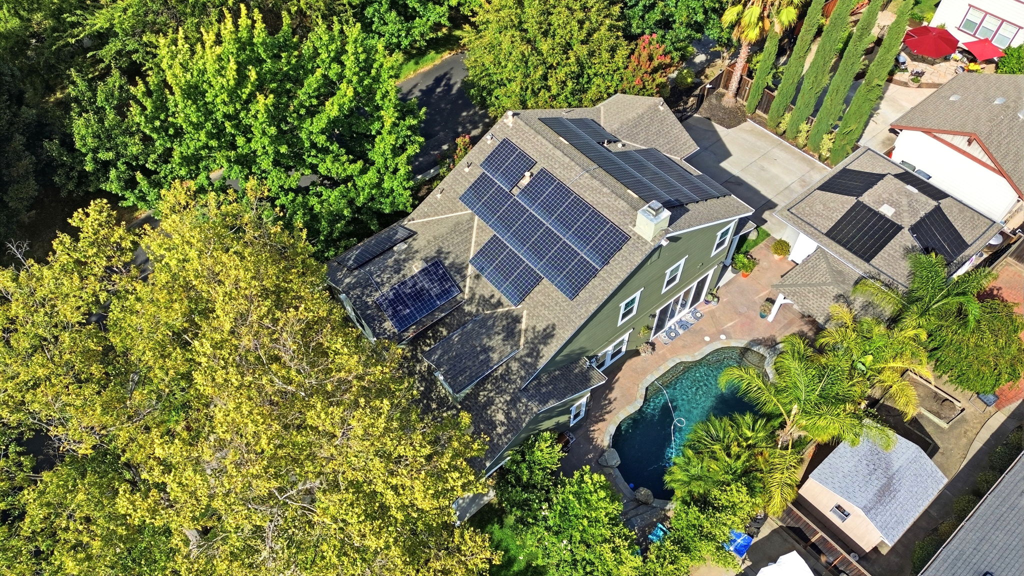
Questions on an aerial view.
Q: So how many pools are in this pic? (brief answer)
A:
1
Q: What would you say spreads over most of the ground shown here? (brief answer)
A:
trees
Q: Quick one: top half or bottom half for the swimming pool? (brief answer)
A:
bottom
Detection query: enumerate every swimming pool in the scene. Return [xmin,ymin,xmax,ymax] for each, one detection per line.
[604,340,777,545]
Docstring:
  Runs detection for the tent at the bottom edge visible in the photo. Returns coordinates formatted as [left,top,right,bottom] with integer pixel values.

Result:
[765,549,826,576]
